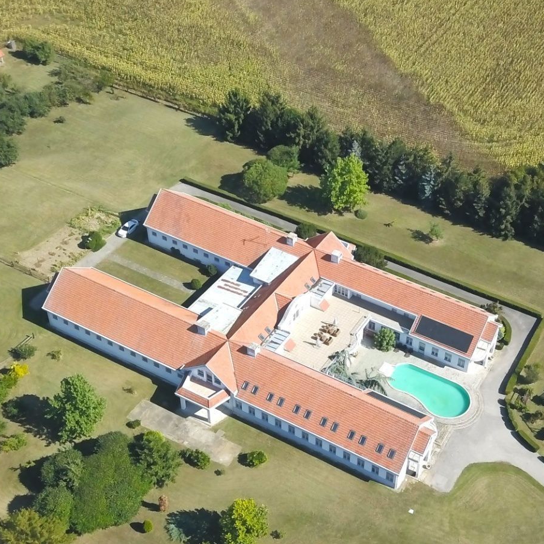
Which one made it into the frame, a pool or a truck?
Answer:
pool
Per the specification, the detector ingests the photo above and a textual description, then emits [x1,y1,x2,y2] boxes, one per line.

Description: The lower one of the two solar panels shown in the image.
[367,393,427,419]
